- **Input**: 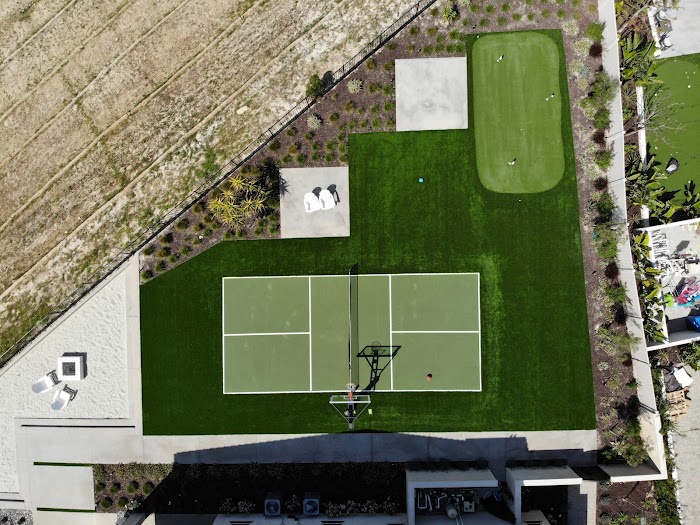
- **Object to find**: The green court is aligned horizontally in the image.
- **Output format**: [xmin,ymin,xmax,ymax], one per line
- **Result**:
[221,273,482,394]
